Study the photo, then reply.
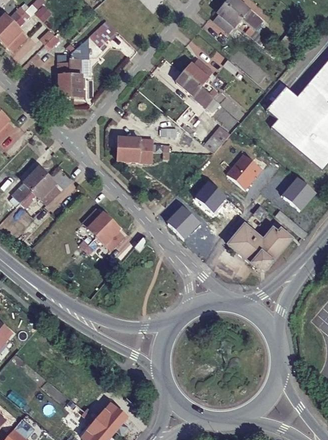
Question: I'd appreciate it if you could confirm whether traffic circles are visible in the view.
Yes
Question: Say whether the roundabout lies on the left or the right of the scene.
right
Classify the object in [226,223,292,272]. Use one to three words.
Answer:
house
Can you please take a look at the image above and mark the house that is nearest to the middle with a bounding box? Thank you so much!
[167,206,201,242]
